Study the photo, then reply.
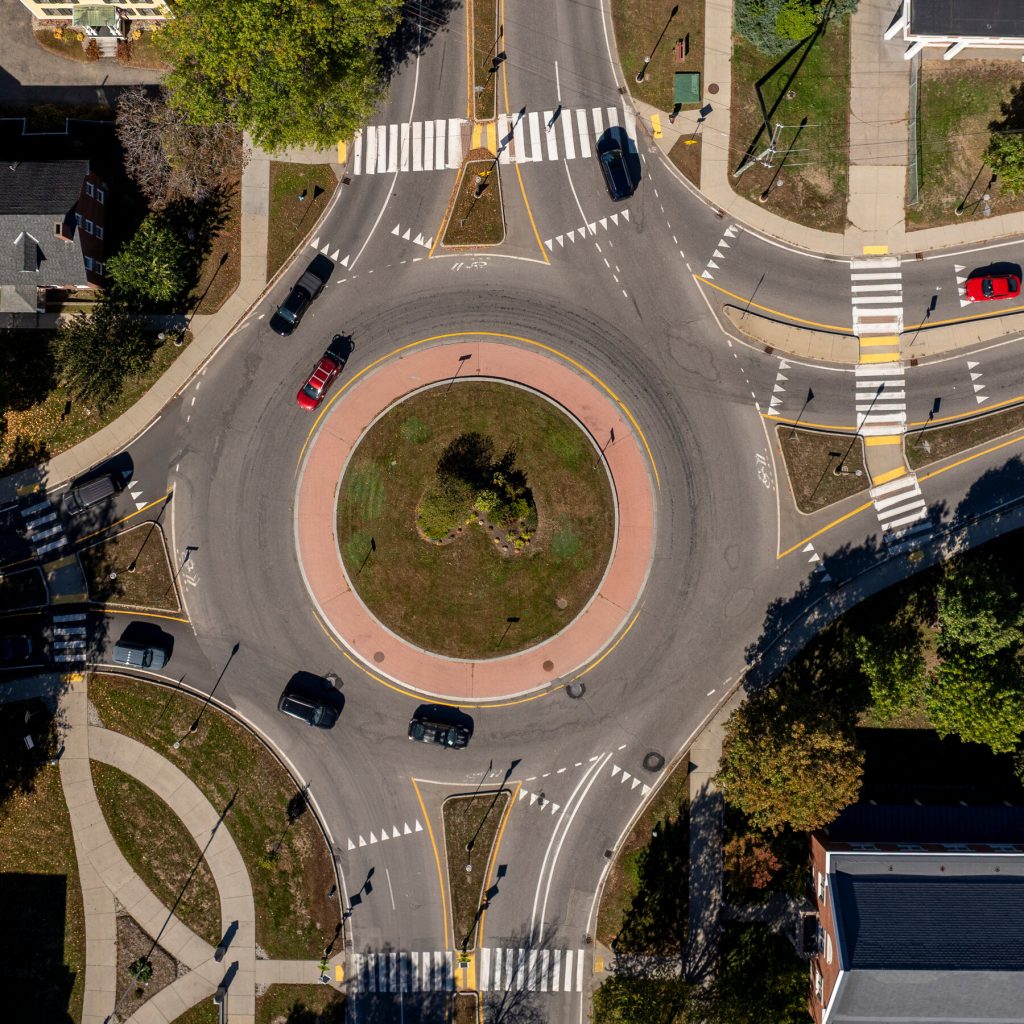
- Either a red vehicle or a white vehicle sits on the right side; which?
red vehicle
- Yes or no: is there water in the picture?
No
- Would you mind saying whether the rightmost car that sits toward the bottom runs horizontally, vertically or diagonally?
horizontally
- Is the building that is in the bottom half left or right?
right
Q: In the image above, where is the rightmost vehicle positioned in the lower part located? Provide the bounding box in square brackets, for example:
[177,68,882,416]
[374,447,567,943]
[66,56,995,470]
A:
[409,718,469,750]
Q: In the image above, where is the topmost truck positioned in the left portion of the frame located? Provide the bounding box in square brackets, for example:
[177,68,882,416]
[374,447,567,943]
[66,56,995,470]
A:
[272,271,327,341]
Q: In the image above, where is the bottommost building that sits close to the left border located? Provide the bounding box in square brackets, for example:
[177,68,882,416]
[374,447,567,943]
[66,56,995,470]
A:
[0,158,107,315]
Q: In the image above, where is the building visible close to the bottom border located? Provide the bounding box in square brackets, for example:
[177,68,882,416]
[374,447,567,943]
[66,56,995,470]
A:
[791,798,1024,1024]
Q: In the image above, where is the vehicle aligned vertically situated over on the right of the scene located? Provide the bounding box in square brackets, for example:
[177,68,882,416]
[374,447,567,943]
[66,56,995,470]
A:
[595,135,634,202]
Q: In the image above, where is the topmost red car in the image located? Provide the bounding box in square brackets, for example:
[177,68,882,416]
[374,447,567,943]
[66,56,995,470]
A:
[962,273,1021,302]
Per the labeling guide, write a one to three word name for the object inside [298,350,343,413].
car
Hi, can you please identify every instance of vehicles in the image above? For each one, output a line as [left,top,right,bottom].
[277,691,338,728]
[298,350,343,413]
[112,641,170,673]
[962,273,1021,302]
[272,271,327,341]
[65,473,129,515]
[409,718,469,750]
[595,135,634,202]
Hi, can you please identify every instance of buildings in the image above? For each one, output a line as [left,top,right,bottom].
[885,0,1024,60]
[791,798,1024,1024]
[0,158,107,315]
[16,0,175,57]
